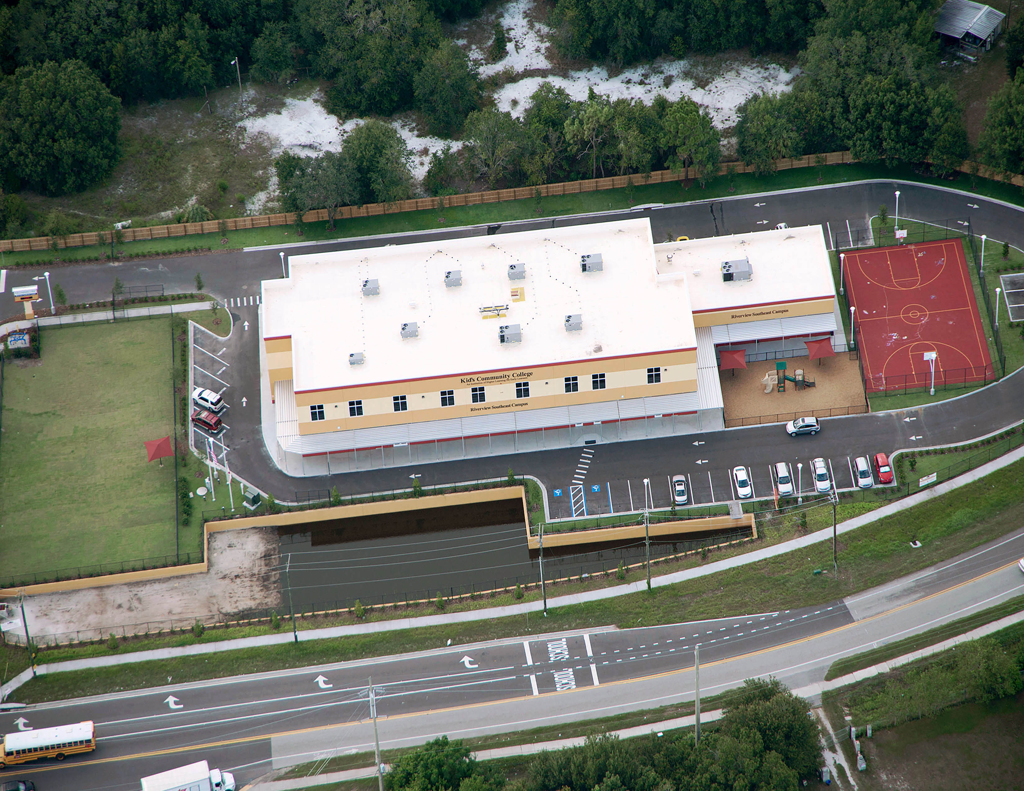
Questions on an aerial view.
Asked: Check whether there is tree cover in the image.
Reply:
Yes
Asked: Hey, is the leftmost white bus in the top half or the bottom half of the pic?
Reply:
bottom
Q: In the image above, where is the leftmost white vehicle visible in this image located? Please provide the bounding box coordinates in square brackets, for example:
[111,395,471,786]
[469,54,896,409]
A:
[0,724,96,768]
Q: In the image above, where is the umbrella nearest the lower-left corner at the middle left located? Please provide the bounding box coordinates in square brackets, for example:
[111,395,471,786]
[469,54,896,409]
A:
[144,436,174,467]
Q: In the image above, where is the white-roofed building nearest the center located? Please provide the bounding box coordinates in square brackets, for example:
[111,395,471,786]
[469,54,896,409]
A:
[261,217,837,475]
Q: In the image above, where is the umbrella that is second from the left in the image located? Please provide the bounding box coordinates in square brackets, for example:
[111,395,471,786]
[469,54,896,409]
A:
[719,349,747,376]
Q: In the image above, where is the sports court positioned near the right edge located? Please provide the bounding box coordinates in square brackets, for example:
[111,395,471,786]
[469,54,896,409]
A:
[840,238,995,392]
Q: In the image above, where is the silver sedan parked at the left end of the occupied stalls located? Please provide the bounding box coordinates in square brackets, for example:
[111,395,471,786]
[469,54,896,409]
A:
[671,472,689,504]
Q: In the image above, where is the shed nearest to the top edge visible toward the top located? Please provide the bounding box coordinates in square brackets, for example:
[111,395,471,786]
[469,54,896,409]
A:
[934,0,1005,60]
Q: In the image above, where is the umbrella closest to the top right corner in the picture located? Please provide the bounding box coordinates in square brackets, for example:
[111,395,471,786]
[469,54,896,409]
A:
[804,337,835,366]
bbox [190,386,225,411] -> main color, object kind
white car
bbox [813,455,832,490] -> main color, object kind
white car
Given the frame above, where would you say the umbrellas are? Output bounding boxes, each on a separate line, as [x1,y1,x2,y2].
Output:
[804,337,835,366]
[144,436,174,467]
[719,349,747,376]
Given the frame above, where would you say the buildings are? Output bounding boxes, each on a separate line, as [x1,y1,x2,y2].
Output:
[261,217,837,475]
[934,0,1005,60]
